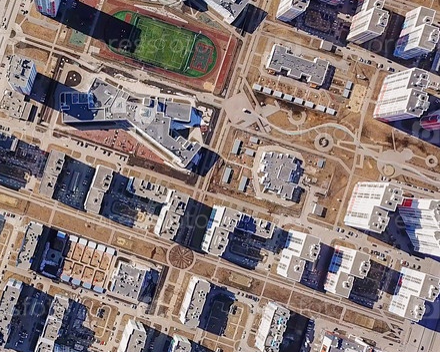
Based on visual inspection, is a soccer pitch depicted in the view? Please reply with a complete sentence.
Yes, you can see a soccer pitch in this photo.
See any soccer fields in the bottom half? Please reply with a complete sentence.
No, there's no soccer field to be seen in the bottom half.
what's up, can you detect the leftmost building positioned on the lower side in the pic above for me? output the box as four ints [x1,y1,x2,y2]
[0,275,26,347]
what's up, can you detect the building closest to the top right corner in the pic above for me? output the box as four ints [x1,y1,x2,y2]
[395,7,439,59]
